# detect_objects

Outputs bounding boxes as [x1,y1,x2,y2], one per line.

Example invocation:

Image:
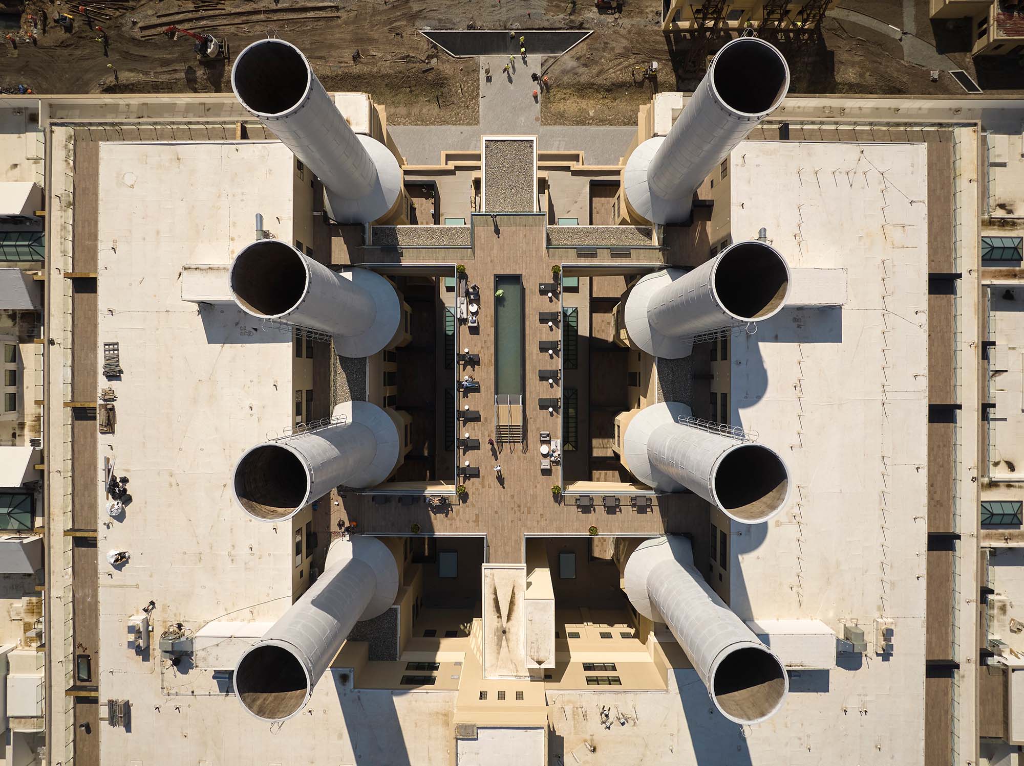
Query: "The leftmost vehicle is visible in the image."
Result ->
[51,13,76,30]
